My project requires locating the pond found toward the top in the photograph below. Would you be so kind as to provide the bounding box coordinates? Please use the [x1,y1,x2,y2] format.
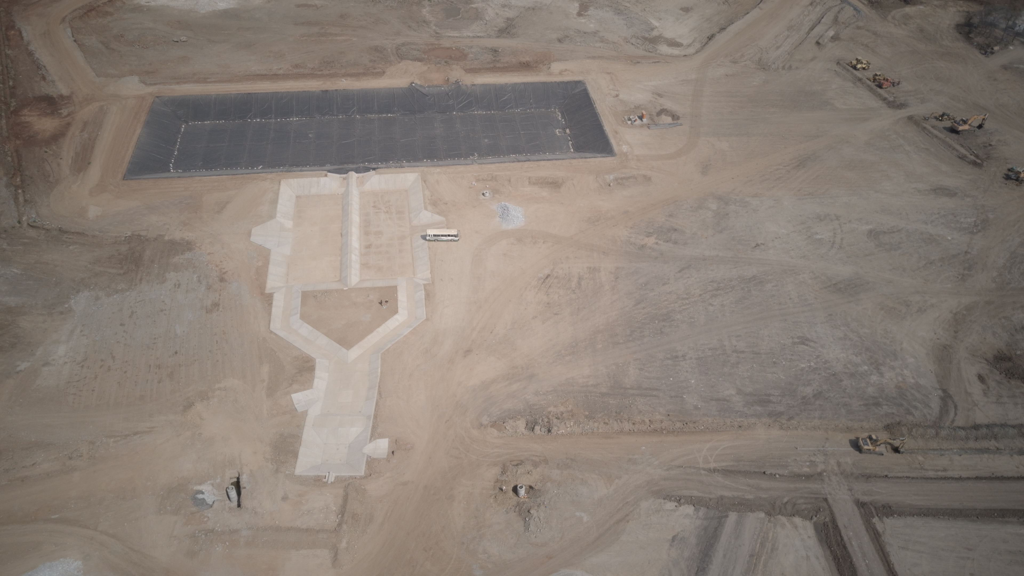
[125,81,615,179]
